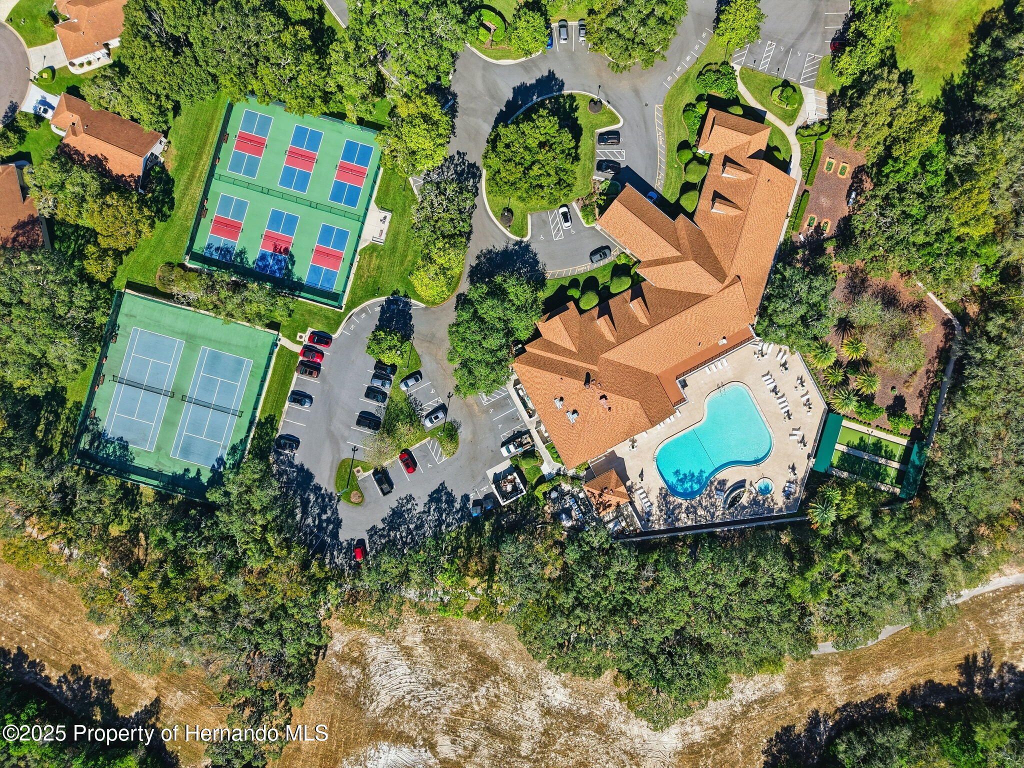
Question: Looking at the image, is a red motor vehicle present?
Yes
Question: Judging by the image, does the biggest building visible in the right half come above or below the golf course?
above it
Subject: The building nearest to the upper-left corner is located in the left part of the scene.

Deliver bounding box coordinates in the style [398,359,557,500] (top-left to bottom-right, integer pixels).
[55,0,126,63]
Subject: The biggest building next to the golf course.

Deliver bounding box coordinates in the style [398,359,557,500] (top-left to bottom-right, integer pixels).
[517,108,796,471]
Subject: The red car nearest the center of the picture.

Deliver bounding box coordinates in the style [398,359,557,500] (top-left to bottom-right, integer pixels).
[400,451,416,473]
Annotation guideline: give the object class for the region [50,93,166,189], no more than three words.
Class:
house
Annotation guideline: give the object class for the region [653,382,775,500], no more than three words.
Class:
swimming pool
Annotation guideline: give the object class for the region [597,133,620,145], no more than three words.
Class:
vehicle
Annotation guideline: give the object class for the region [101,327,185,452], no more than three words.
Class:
tennis court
